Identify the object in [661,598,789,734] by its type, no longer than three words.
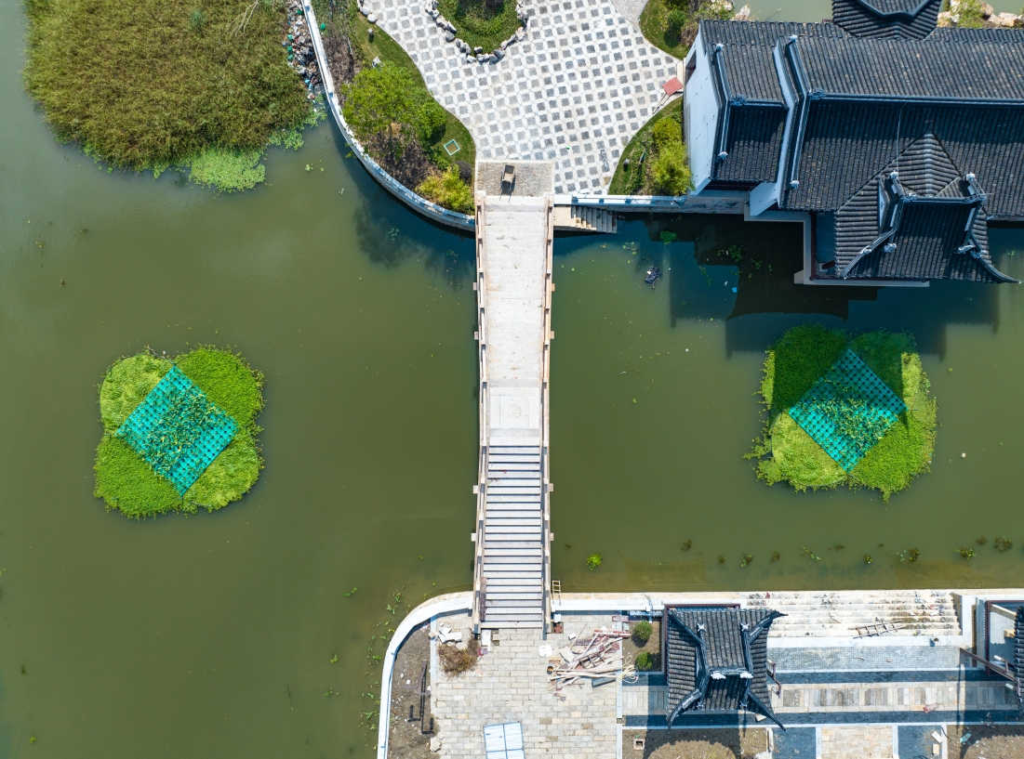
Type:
building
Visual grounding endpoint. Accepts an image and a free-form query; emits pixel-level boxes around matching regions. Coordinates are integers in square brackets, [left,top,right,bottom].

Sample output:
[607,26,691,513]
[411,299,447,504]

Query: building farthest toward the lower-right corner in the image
[969,600,1024,730]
